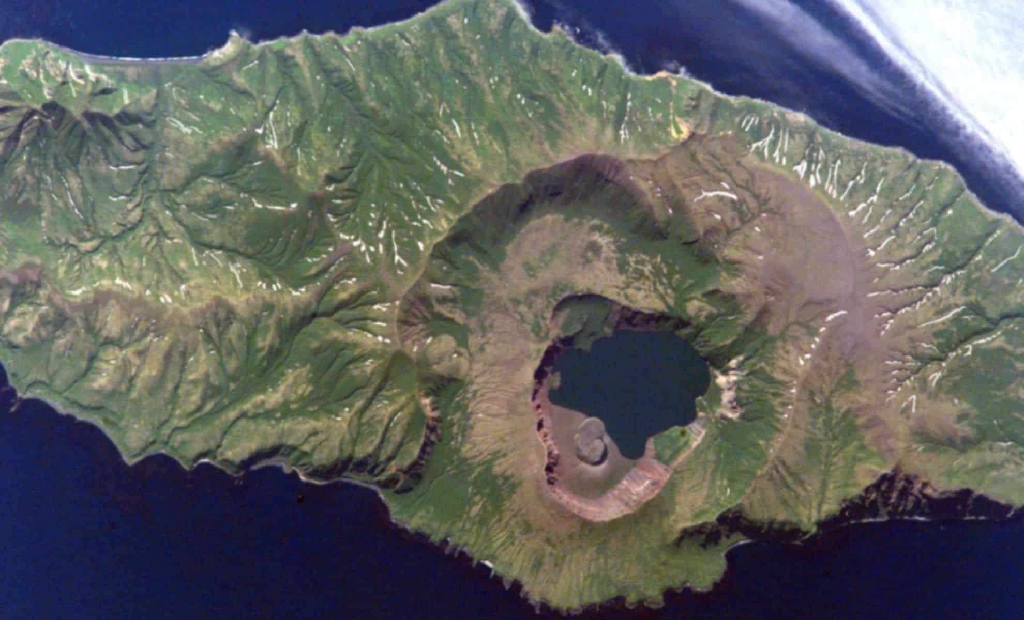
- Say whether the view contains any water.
Yes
